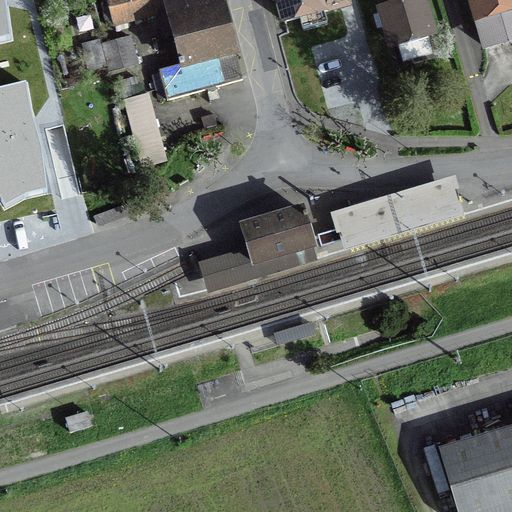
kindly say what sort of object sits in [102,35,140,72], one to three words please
shed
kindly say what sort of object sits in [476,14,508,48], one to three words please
building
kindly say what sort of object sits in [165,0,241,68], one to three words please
house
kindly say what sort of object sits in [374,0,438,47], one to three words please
house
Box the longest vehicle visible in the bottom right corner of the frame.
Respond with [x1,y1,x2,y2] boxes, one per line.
[425,446,454,506]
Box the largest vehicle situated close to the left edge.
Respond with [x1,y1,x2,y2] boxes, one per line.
[13,221,29,250]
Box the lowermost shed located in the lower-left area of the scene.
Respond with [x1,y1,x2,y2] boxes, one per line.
[65,411,94,433]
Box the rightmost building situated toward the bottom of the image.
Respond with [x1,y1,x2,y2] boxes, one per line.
[438,424,512,512]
